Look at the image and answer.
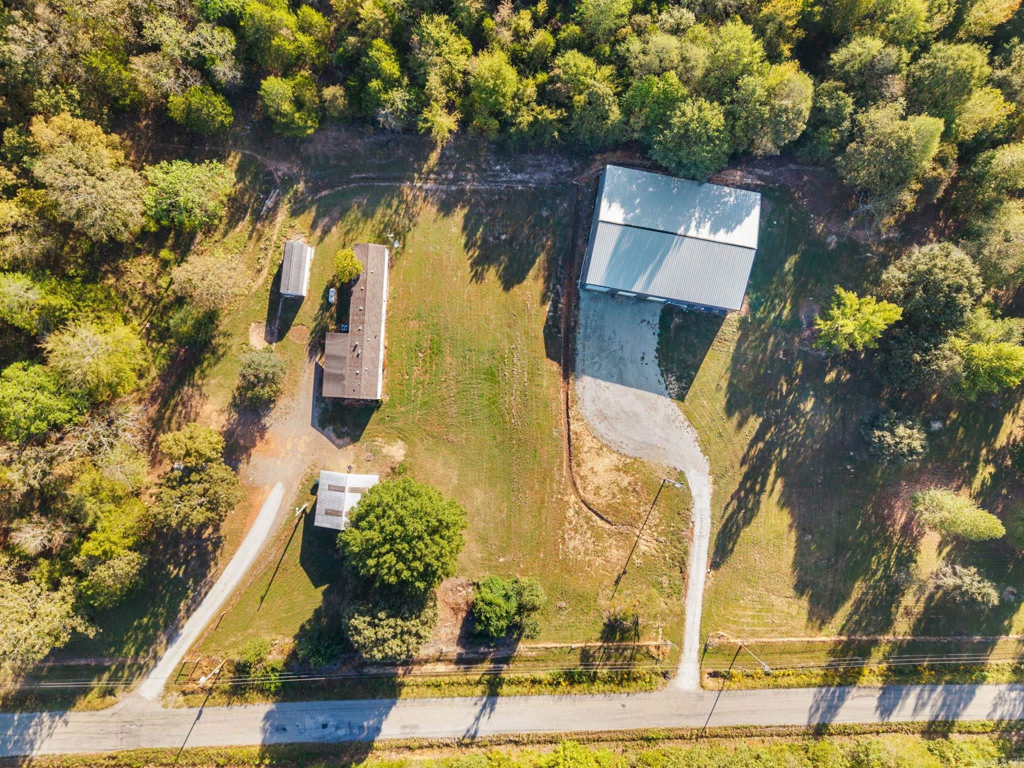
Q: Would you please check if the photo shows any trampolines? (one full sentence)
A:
No, the frame has no trampoline in it.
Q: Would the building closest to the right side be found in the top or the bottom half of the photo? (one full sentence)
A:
It is in the top half that the building closest to the right side appears.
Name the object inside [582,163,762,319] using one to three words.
building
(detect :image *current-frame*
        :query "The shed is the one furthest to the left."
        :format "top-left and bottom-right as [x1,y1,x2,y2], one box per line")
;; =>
[280,241,315,299]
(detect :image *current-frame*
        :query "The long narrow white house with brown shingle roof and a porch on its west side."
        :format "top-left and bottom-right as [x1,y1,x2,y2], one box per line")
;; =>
[322,243,389,408]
